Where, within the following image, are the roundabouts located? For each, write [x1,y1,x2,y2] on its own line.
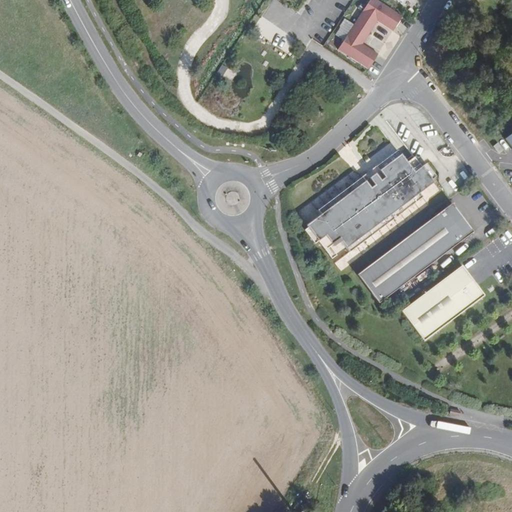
[198,163,268,234]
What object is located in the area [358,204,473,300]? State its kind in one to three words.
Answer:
building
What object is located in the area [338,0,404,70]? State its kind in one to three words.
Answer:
house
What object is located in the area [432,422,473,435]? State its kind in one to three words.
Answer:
vehicle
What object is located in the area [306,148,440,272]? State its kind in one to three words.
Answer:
building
